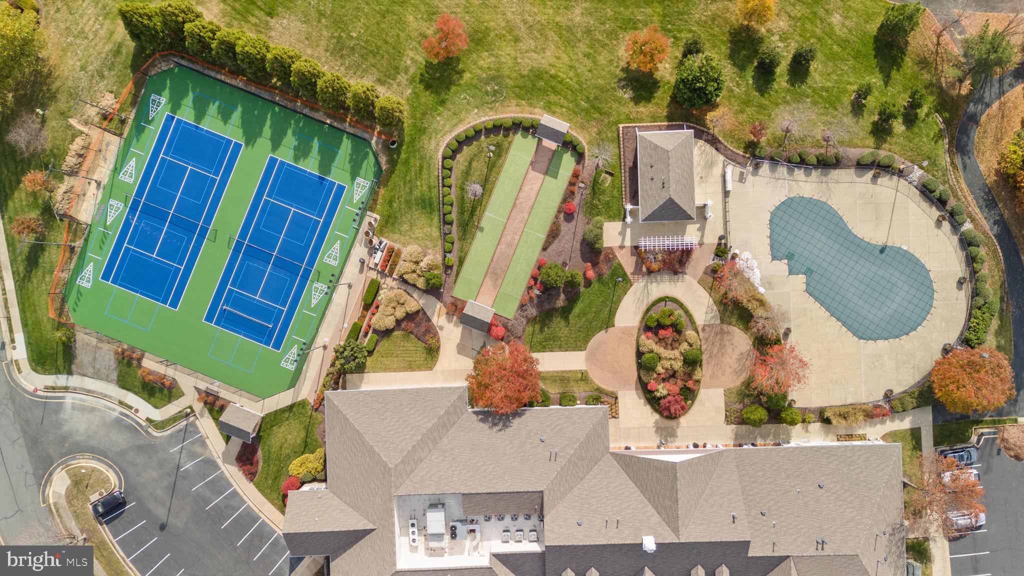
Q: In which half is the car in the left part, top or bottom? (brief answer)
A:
bottom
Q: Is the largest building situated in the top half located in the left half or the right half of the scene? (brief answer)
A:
right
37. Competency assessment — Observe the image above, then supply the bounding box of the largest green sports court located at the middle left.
[63,65,379,399]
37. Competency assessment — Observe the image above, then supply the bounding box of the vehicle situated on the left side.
[91,489,128,519]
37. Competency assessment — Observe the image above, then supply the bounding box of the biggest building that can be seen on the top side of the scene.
[637,130,696,223]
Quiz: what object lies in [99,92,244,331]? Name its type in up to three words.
tennis court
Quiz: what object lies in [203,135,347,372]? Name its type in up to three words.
tennis court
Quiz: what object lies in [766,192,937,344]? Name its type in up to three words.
swimming pool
